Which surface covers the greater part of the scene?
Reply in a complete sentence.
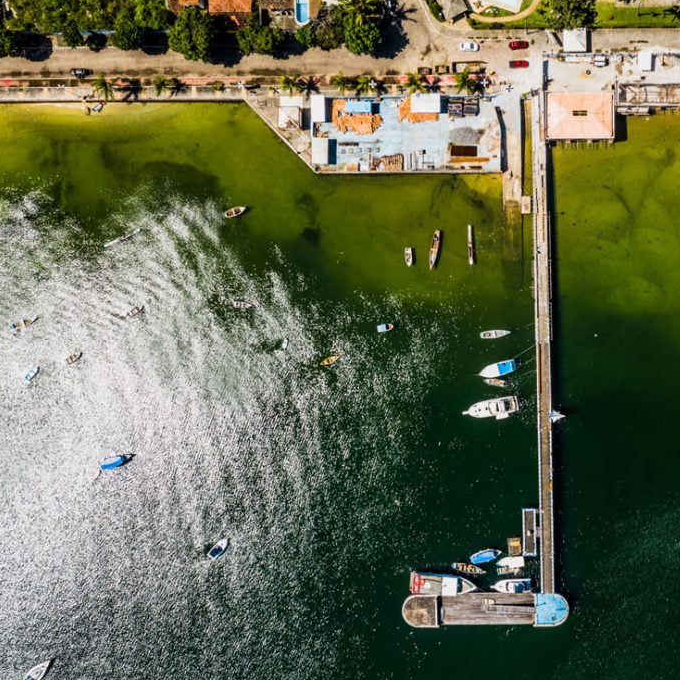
For the most part, this view shows water.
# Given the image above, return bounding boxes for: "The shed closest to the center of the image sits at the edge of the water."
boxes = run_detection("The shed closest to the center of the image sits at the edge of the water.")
[312,138,331,167]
